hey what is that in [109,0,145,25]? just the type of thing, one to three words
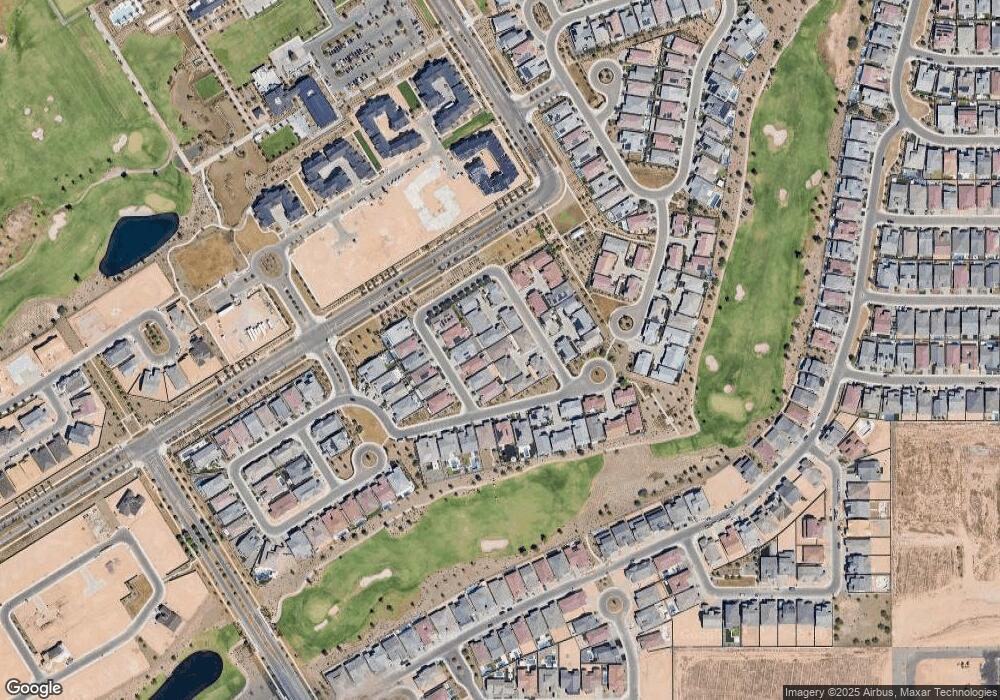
swimming pool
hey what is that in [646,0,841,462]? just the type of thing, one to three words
golf course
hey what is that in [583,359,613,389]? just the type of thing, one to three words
roundabout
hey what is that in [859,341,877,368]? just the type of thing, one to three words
house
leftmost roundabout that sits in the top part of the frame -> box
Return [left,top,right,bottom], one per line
[254,247,288,281]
